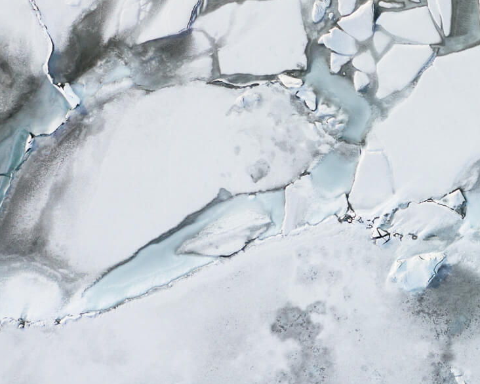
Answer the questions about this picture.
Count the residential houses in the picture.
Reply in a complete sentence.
The picture shows no residential houses.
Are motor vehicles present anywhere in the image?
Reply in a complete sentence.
No, the scene contains no motor vehicle.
